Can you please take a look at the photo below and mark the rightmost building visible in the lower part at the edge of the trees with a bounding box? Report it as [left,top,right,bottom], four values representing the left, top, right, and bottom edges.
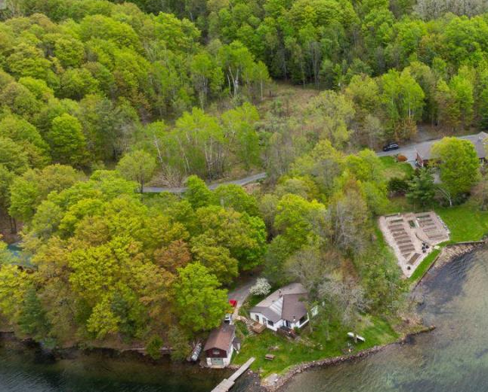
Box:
[248,284,308,332]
